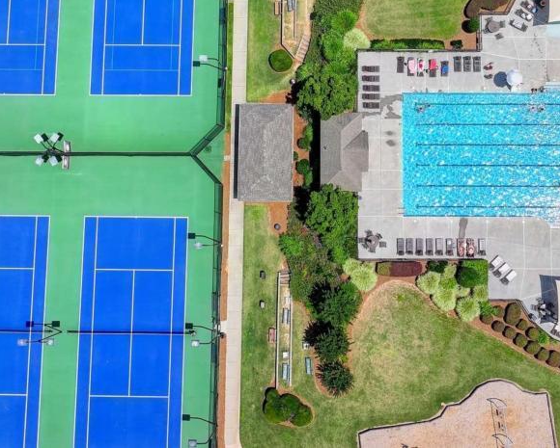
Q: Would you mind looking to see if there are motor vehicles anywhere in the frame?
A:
No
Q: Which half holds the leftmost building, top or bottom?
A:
top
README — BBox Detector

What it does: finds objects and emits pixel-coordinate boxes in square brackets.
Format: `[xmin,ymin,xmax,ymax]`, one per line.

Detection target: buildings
[320,112,370,192]
[236,103,292,201]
